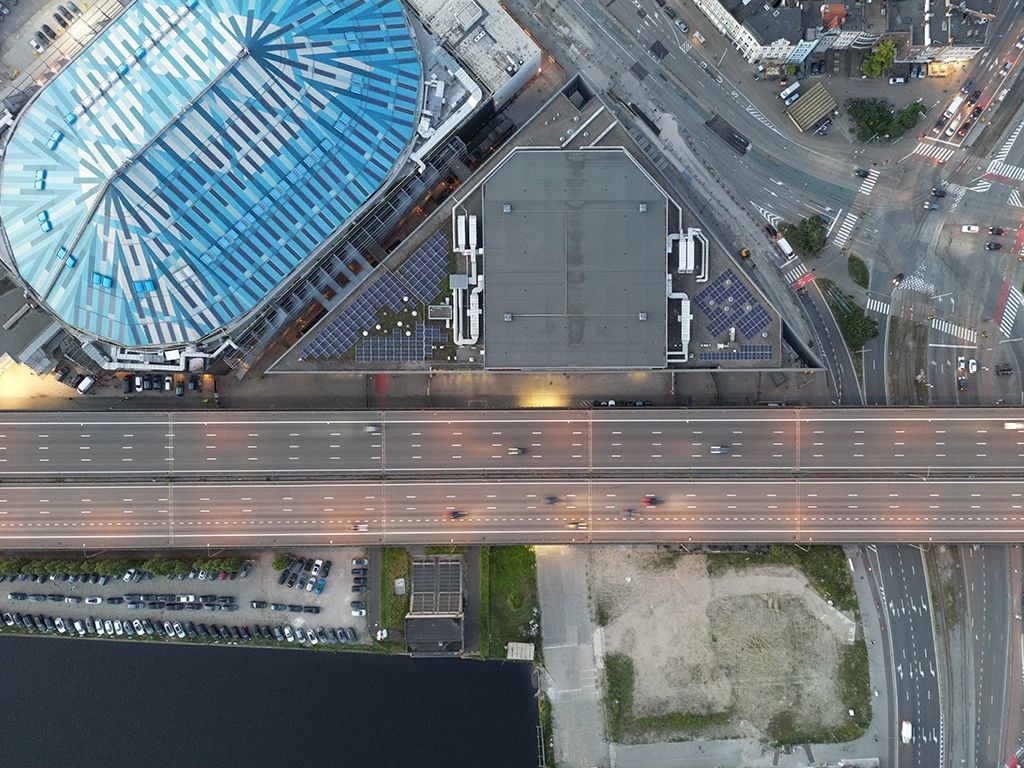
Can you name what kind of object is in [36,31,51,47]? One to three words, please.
car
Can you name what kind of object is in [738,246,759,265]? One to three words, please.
work vehicle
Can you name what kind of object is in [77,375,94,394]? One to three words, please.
vehicle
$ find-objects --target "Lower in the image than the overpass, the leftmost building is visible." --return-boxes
[405,551,465,658]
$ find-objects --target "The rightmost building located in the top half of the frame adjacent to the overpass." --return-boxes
[264,74,827,374]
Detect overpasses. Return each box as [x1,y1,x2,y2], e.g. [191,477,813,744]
[0,408,1024,548]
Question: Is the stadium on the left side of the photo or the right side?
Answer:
left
